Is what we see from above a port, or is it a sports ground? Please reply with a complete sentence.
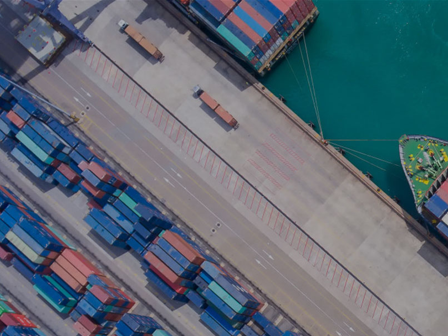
It's a port.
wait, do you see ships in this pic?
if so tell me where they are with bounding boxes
[398,133,448,241]
[174,0,326,85]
